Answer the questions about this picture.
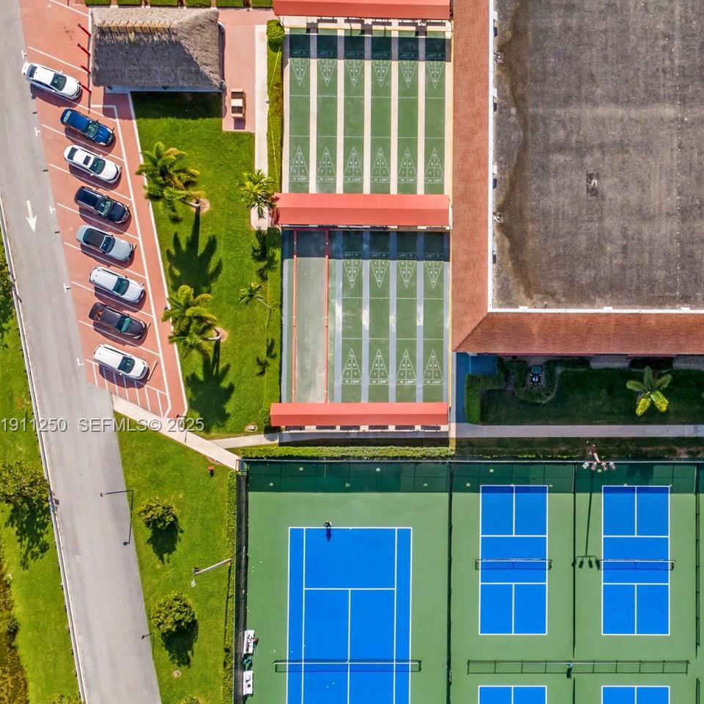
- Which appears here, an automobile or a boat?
automobile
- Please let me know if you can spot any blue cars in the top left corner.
Yes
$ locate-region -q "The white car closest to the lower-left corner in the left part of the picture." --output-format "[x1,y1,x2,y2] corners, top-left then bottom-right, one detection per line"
[89,342,152,383]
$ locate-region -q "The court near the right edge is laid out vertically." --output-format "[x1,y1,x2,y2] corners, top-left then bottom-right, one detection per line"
[601,486,671,635]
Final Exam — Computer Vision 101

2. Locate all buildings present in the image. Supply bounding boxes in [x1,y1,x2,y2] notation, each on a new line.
[92,8,229,94]
[451,0,704,356]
